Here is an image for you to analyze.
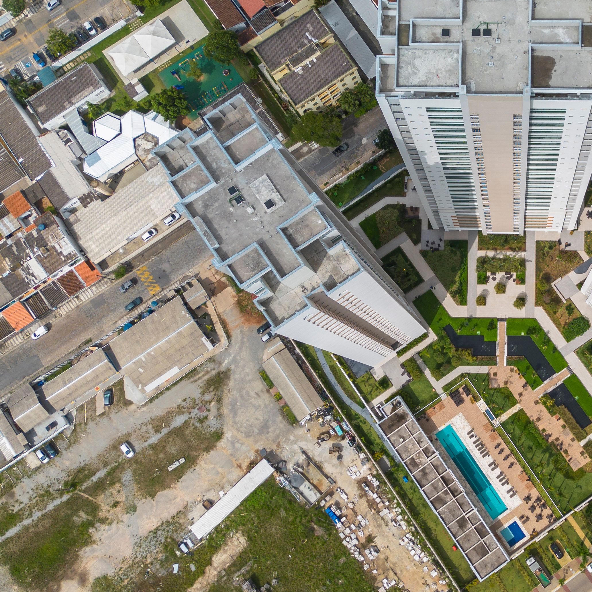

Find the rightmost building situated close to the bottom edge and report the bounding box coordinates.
[376,395,510,581]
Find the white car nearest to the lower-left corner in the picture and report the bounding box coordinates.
[36,449,49,464]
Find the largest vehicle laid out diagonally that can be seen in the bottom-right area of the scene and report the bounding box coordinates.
[526,555,552,589]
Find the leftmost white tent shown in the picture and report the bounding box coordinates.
[109,36,153,79]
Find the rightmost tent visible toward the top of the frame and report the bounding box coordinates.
[133,18,179,64]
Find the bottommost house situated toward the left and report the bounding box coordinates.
[184,458,278,539]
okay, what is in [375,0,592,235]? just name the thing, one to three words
building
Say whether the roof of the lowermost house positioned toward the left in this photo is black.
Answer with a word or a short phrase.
No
